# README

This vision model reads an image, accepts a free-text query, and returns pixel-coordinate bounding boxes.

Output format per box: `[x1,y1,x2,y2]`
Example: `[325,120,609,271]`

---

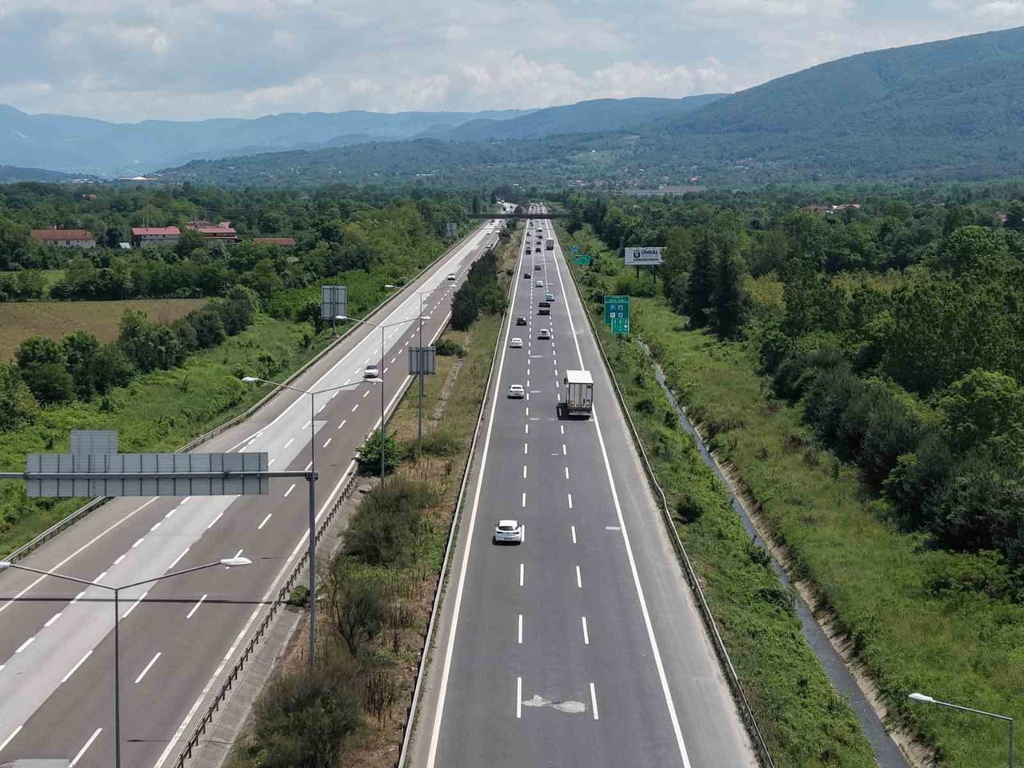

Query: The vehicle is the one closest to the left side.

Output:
[364,363,381,377]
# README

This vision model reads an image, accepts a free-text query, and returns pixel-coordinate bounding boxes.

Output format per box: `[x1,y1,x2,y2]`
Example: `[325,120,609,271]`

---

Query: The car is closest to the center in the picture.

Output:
[508,382,525,396]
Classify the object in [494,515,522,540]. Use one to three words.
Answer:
car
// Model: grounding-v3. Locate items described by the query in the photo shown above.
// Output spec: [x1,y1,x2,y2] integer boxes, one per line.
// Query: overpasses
[454,211,583,231]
